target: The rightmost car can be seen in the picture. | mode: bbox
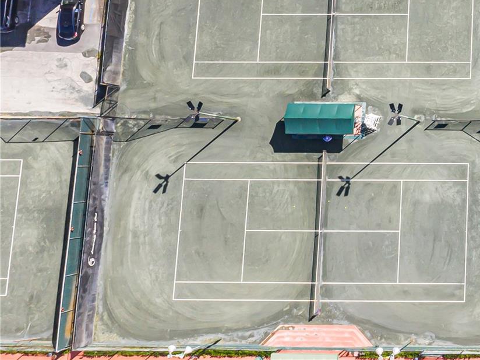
[57,0,87,42]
